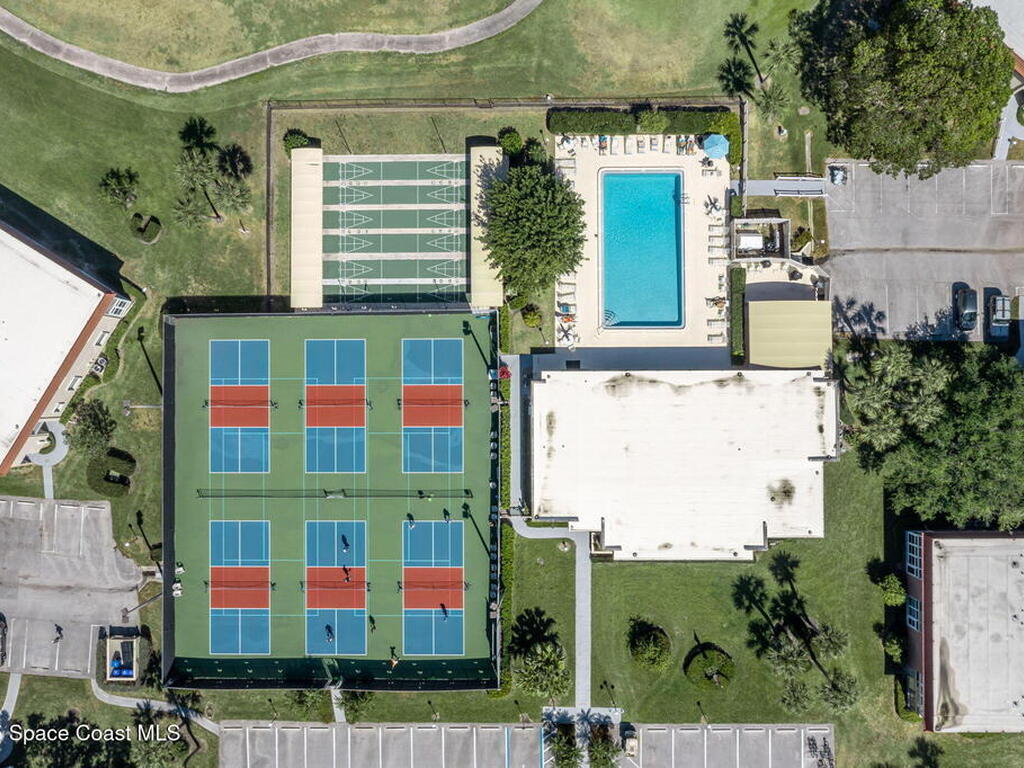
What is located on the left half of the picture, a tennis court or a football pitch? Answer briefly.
tennis court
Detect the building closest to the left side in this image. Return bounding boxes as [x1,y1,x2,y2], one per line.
[0,212,134,518]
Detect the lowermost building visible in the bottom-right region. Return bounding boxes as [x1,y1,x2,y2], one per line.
[908,529,1024,732]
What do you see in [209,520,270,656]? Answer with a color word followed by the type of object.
blue sports court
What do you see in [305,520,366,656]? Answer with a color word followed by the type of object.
blue sports court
